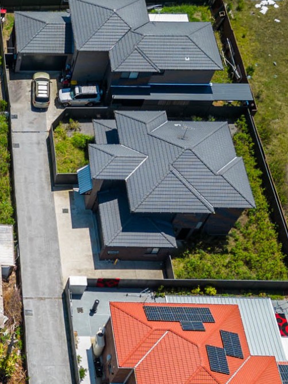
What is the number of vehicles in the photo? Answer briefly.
2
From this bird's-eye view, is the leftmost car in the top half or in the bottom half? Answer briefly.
top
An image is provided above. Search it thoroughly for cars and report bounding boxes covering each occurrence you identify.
[59,82,106,107]
[30,71,51,106]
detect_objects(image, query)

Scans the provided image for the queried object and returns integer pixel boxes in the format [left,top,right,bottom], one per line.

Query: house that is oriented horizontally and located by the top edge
[13,0,226,102]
